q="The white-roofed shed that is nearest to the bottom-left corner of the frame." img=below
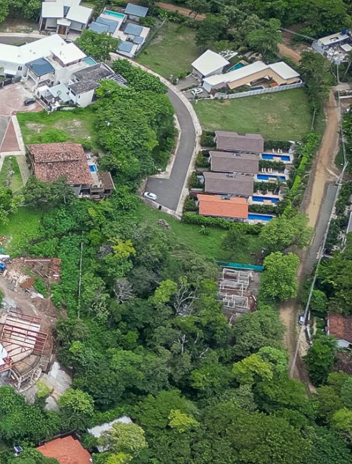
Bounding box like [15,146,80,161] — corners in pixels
[86,424,109,459]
